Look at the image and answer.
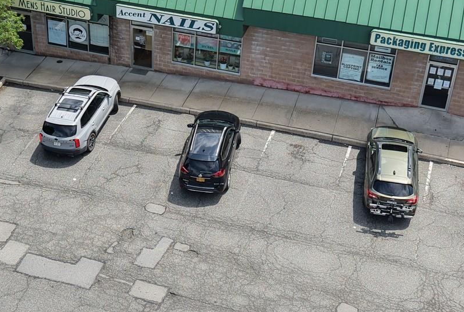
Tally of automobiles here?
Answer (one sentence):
In total, there are 3 automobiles in the scene.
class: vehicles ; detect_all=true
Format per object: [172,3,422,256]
[36,75,121,160]
[359,138,426,235]
[178,111,248,198]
